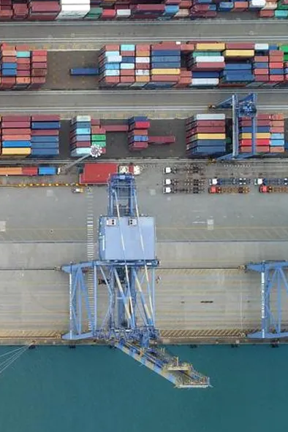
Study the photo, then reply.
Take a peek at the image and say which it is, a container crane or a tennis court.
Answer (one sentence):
It is a container crane that can be seen here.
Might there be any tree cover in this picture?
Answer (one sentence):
No, the picture contains no tree cover.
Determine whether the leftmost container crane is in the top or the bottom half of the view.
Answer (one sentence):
The leftmost container crane sits in the bottom half of the picture.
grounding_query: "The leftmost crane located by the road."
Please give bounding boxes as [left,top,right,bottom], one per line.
[56,174,208,389]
